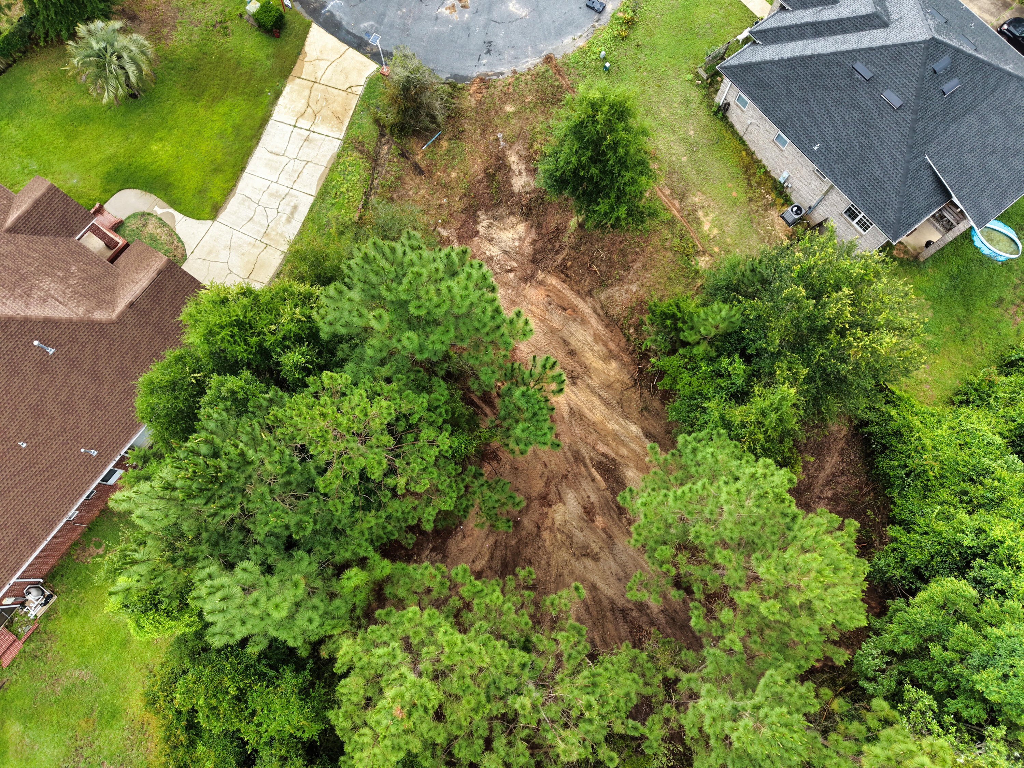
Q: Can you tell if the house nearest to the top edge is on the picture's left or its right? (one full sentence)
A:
The house nearest to the top edge sits on the right side.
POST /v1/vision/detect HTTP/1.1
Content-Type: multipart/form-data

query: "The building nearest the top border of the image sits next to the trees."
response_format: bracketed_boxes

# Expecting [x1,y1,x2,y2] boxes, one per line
[717,0,1024,270]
